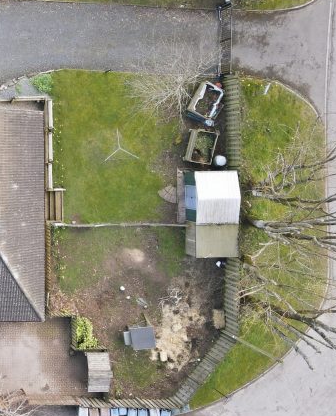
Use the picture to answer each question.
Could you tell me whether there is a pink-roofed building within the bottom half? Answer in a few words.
No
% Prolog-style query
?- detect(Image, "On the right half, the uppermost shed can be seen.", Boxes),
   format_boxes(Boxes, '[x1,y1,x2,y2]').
[184,170,243,223]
